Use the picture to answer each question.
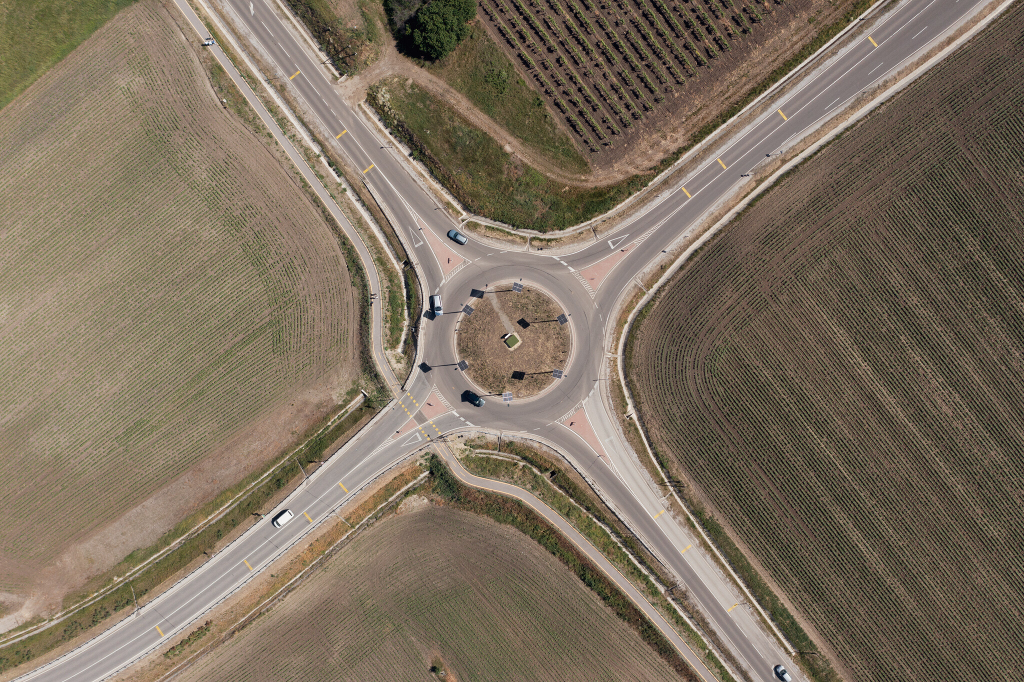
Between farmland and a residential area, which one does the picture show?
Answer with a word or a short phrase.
farmland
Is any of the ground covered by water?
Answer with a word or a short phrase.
No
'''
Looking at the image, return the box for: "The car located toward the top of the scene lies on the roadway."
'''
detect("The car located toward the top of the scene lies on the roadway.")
[449,229,469,245]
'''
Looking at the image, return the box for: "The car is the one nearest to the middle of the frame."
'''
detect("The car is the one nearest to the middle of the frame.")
[463,390,485,407]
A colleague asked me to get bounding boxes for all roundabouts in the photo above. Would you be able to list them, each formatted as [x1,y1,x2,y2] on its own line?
[420,226,604,433]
